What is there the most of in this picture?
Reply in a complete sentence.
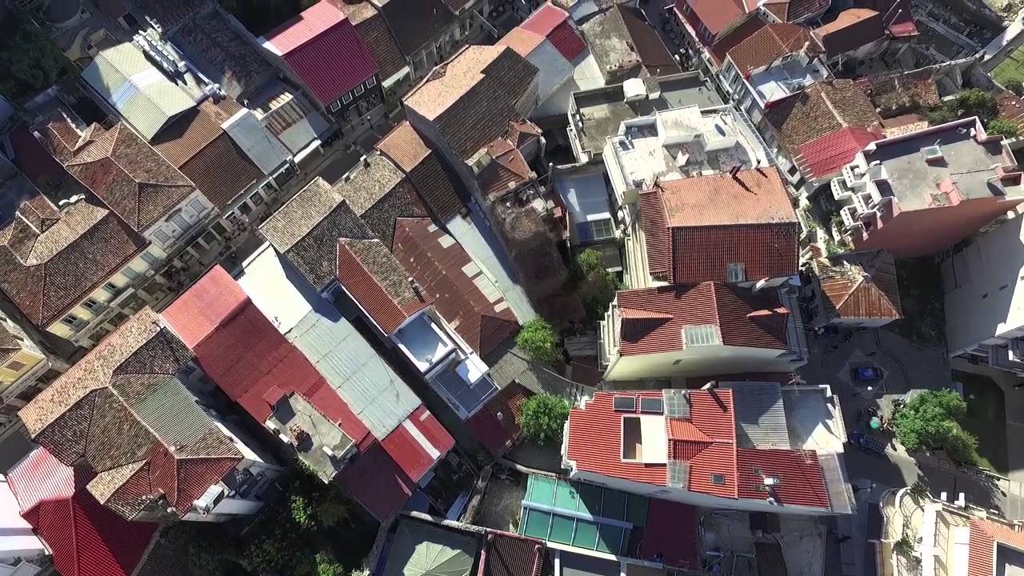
What you mostly see from above here is buildings.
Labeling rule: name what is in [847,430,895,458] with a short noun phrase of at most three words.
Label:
truck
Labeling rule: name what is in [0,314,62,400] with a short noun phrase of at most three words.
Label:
house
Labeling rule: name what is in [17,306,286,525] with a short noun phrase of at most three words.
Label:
house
